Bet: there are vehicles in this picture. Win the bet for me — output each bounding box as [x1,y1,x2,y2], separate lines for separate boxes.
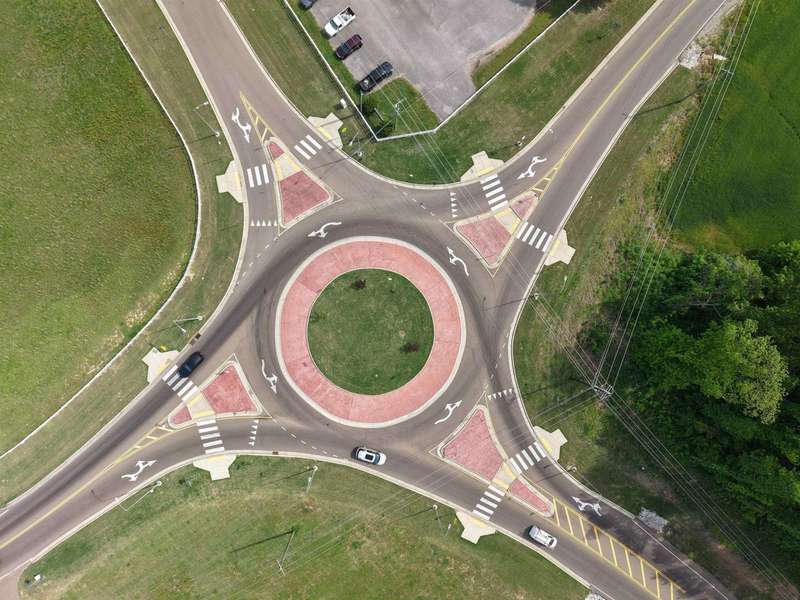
[525,523,558,549]
[324,5,358,39]
[351,446,388,466]
[297,0,323,13]
[357,62,395,94]
[334,34,364,62]
[173,349,205,378]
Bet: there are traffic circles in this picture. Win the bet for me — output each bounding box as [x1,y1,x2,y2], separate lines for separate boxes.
[238,201,500,462]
